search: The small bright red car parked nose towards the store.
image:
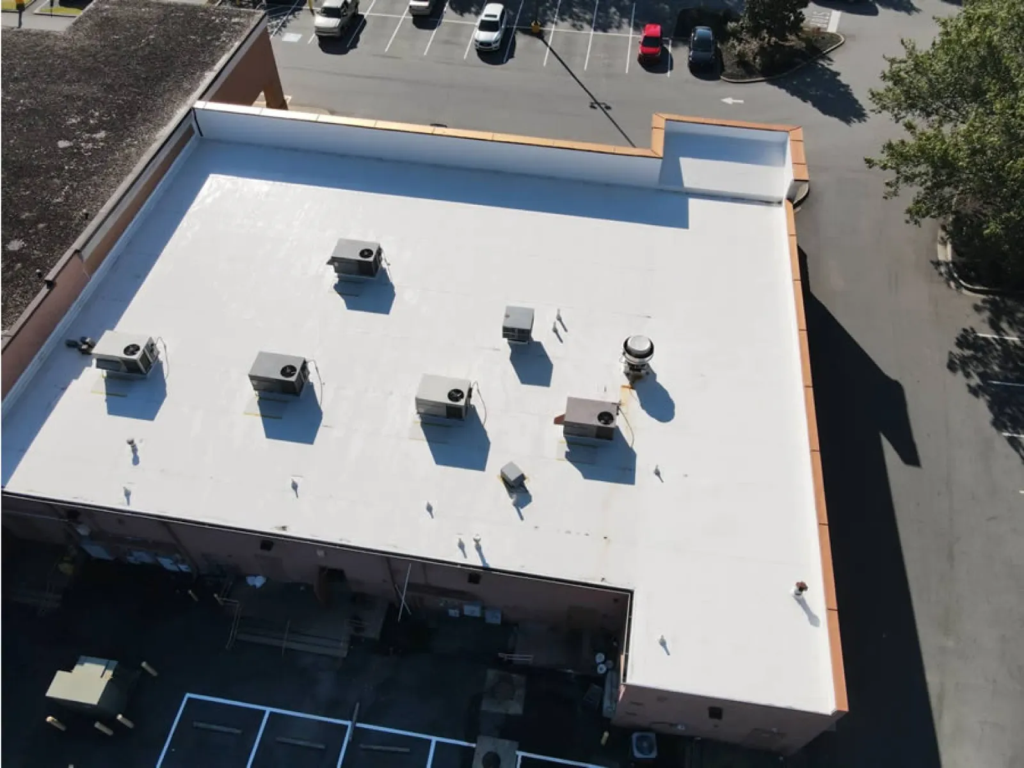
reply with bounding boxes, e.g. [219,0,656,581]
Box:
[638,23,668,64]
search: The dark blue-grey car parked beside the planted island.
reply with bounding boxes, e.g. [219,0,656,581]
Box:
[689,28,720,69]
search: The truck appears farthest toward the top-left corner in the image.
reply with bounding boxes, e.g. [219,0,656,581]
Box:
[311,0,356,37]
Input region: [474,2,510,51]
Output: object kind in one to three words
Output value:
car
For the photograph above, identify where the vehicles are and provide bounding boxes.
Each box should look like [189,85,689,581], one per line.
[638,23,668,64]
[410,0,438,14]
[689,28,720,69]
[311,0,356,37]
[474,2,510,51]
